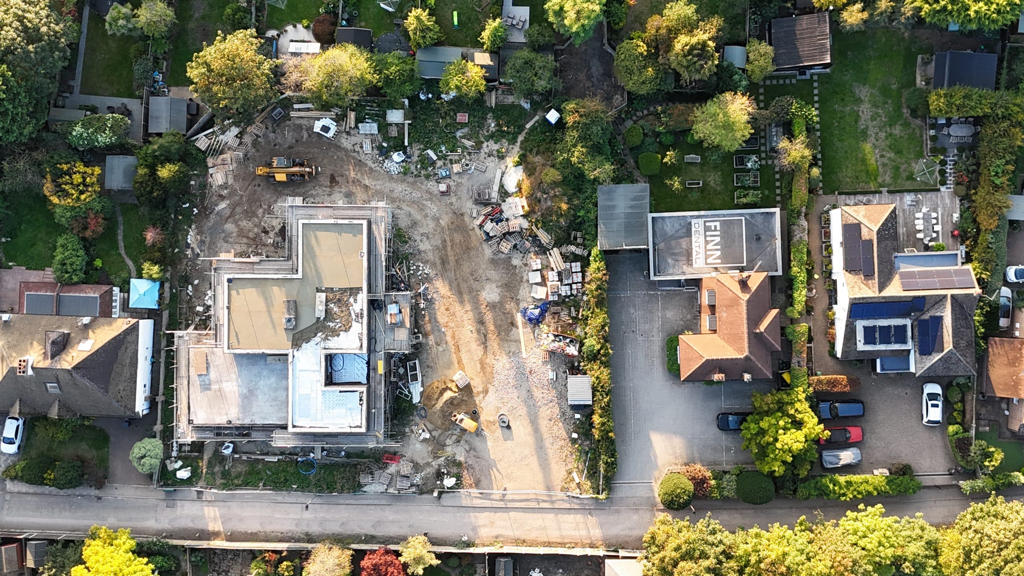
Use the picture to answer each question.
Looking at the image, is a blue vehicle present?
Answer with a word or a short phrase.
Yes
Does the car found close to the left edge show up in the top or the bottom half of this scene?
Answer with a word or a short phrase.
bottom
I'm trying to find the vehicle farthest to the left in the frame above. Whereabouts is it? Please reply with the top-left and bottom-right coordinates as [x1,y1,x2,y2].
[0,417,29,456]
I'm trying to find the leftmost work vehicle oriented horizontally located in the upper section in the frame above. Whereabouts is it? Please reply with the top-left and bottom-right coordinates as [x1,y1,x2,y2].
[254,154,330,185]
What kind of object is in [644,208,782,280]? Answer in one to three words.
building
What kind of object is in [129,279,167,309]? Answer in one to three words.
gazebo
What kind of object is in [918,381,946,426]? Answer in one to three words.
car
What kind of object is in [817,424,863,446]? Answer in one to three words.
car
